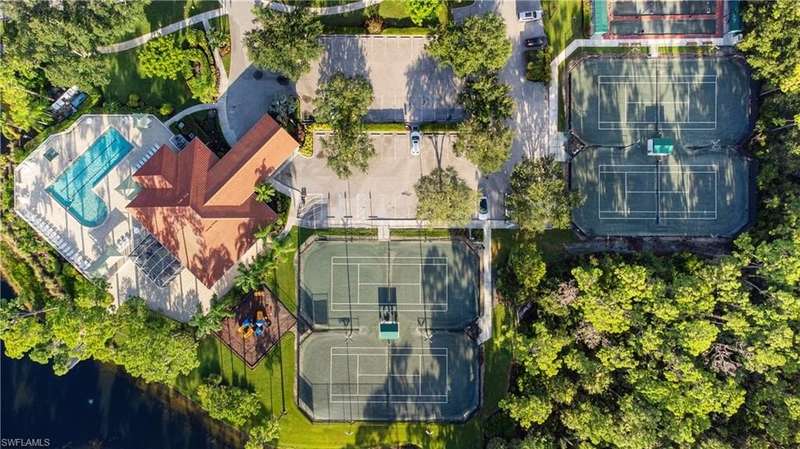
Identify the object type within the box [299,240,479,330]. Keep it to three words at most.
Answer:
tennis court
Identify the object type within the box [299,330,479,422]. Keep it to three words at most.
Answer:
tennis court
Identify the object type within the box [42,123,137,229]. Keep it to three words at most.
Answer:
swimming pool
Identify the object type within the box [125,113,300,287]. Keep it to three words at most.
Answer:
building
